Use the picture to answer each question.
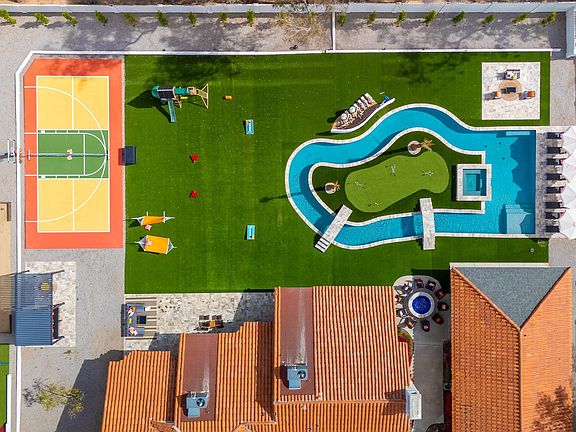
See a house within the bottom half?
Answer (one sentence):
Yes, a house is visible within the bottom half.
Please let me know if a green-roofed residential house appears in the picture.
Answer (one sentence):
No, there isn't any green-roofed residential house down there.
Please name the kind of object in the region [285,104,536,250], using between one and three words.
swimming pool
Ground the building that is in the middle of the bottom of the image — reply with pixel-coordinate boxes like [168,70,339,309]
[100,287,421,432]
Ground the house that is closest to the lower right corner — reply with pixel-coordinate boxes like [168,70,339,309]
[452,267,574,432]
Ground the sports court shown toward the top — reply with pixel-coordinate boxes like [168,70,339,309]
[24,60,124,248]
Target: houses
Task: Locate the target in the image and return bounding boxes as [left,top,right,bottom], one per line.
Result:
[452,267,574,432]
[100,287,421,432]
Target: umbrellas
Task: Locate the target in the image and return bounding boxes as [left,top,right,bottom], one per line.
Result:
[555,209,576,242]
[556,182,576,211]
[557,153,576,183]
[557,122,576,155]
